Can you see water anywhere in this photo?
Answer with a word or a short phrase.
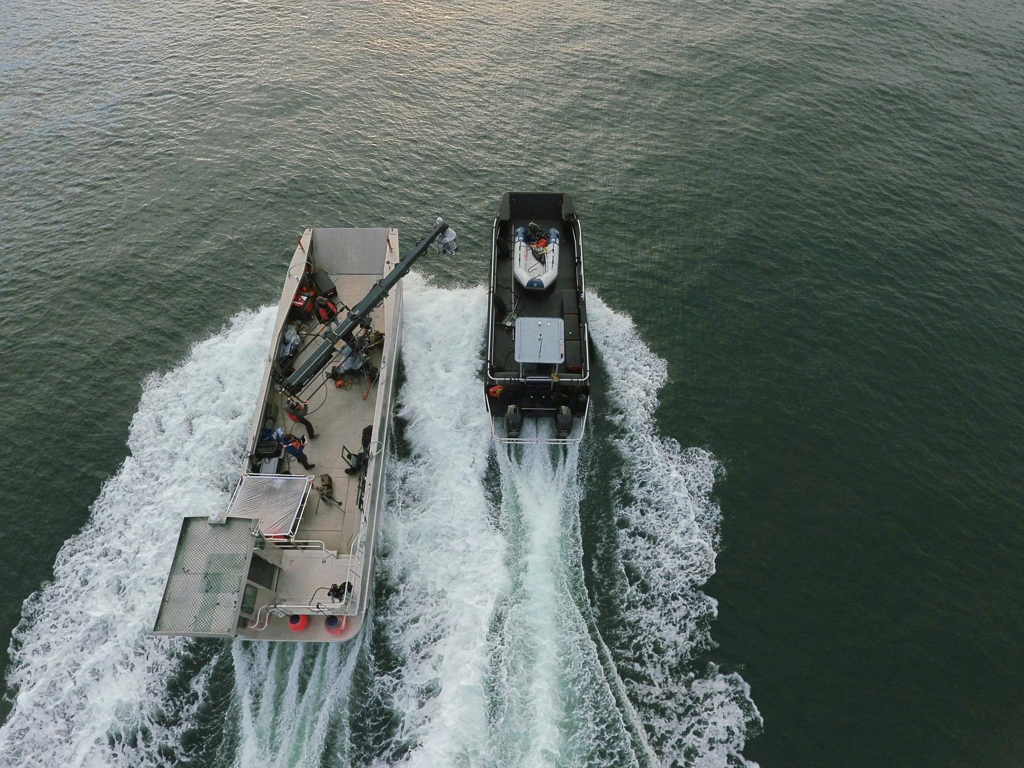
Yes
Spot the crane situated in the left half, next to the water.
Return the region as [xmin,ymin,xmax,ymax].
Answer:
[270,216,457,403]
